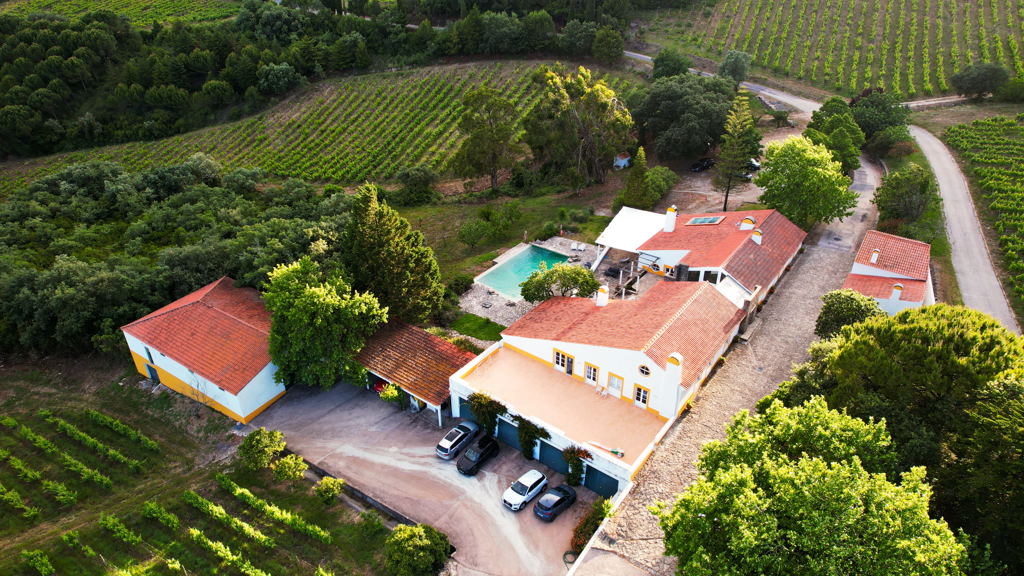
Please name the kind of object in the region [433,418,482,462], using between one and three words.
car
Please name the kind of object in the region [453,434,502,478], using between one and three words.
car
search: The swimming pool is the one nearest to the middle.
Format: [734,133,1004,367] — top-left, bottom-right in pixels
[473,239,574,296]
